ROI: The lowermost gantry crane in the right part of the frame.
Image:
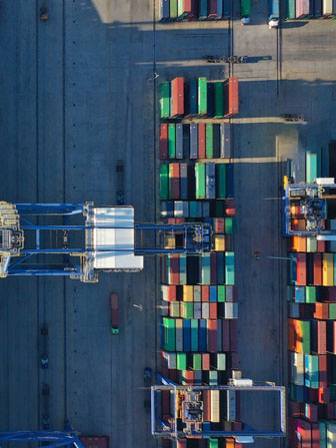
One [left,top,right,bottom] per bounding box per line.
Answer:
[152,364,287,442]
